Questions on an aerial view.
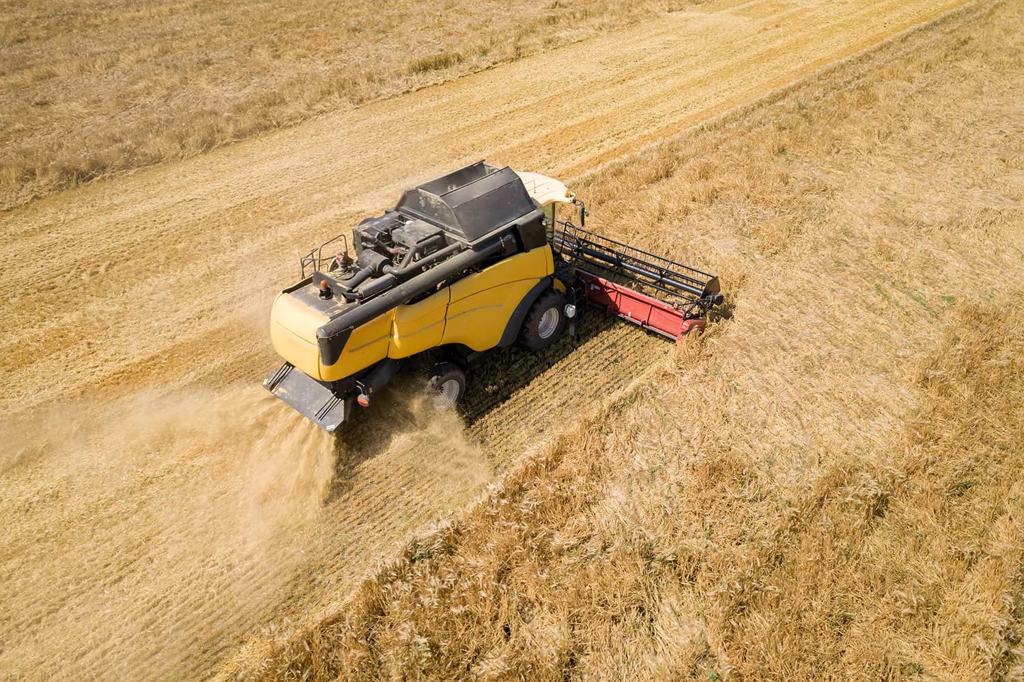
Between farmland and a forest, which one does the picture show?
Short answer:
farmland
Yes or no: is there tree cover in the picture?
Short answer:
No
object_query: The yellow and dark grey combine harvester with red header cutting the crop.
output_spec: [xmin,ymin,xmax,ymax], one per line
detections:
[264,158,725,436]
